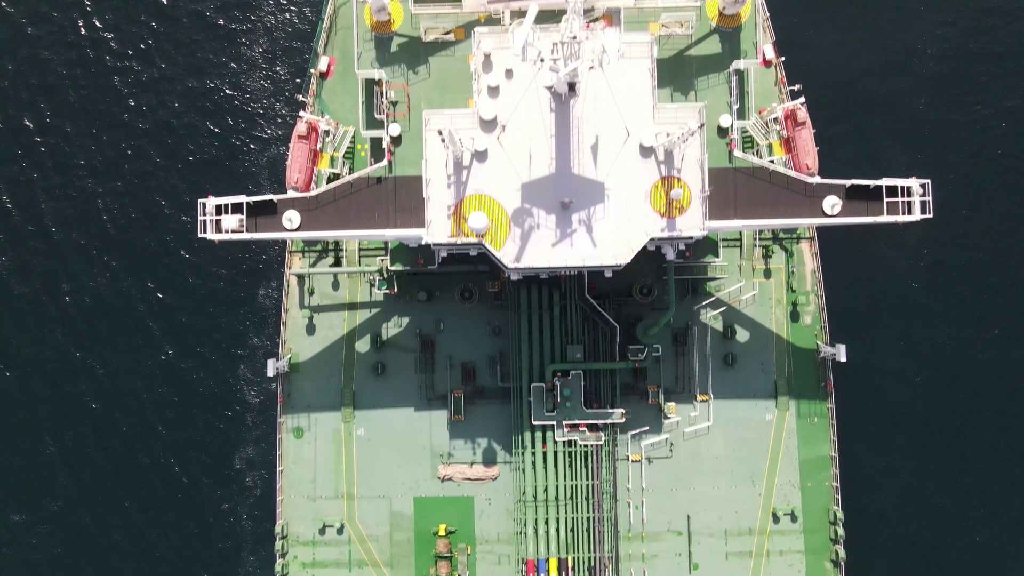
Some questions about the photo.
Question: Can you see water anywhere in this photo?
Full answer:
Yes, the picture does contain water.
